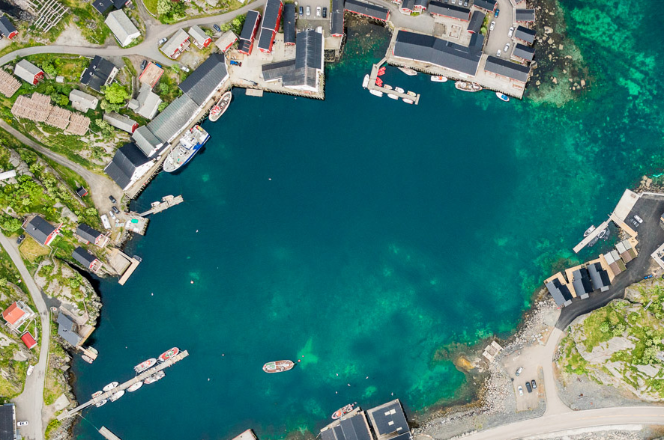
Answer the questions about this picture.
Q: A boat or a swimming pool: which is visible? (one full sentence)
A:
Looking from above, you can make out a boat.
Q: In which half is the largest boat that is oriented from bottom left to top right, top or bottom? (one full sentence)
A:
It is in the top half that the largest boat that is oriented from bottom left to top right appears.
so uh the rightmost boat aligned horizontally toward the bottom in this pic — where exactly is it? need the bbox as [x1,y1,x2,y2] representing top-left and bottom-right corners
[262,360,294,374]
